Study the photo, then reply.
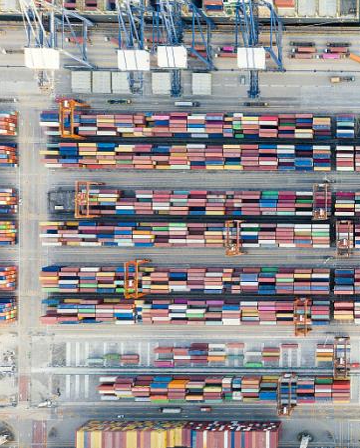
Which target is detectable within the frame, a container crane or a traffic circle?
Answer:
container crane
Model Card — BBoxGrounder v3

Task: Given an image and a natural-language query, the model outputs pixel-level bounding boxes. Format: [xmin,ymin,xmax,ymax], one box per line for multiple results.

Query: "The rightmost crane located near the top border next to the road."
[236,0,287,96]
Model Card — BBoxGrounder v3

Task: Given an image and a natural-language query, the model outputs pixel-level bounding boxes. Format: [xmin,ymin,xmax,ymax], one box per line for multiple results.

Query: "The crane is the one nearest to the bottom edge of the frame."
[278,368,301,417]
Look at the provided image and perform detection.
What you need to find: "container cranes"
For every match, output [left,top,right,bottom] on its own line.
[294,295,316,336]
[57,100,90,141]
[278,368,301,417]
[236,0,287,96]
[333,332,353,381]
[124,258,153,299]
[335,222,356,258]
[224,221,249,256]
[115,0,169,96]
[18,0,100,95]
[73,182,105,218]
[154,0,217,96]
[311,184,333,220]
